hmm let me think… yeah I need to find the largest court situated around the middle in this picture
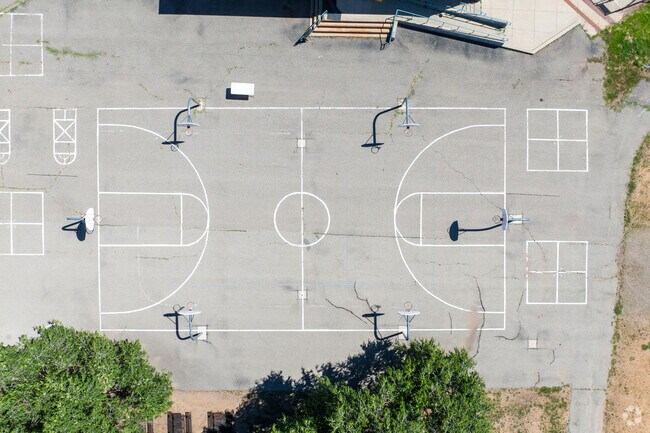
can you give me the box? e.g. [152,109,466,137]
[97,107,506,331]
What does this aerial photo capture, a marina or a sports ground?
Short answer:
sports ground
